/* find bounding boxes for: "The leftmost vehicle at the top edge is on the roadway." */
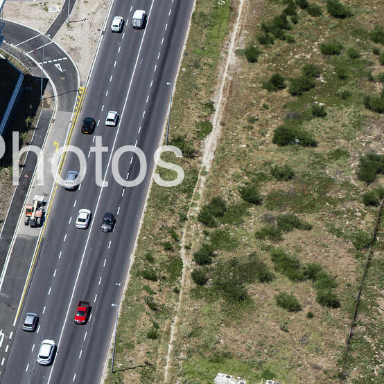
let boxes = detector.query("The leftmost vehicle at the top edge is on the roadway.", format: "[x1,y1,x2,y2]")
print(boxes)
[111,18,124,32]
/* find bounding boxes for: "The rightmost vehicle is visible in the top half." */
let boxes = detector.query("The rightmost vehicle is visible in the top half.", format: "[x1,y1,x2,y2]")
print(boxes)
[131,10,146,29]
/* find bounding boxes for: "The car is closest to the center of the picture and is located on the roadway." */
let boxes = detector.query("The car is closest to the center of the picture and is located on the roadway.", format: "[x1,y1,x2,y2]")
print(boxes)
[100,211,116,234]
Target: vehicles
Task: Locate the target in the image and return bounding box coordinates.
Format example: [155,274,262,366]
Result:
[131,10,146,29]
[22,312,39,333]
[26,195,45,223]
[81,118,95,135]
[105,111,119,128]
[111,18,124,32]
[100,211,116,234]
[74,297,92,327]
[75,209,91,230]
[38,340,56,366]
